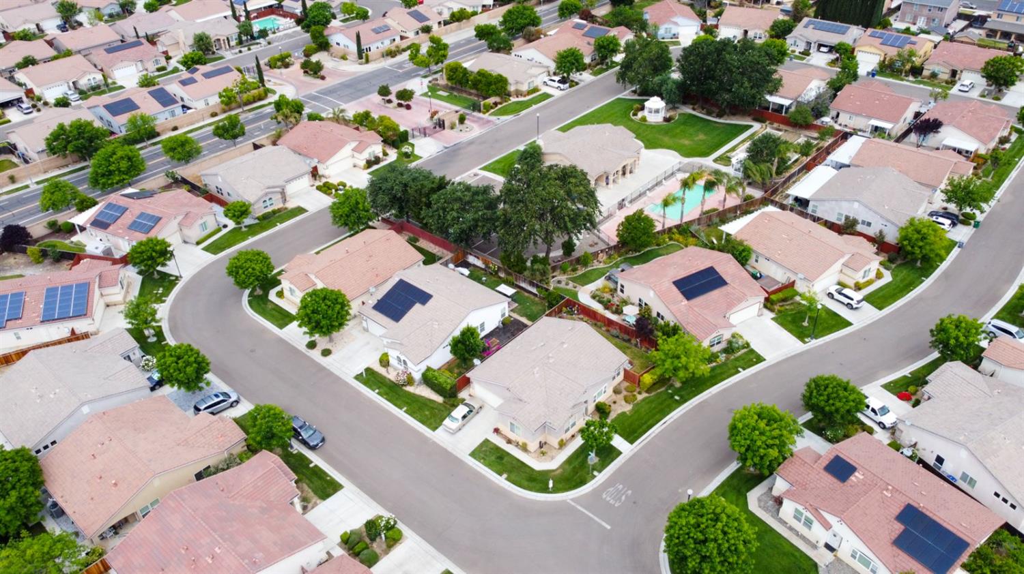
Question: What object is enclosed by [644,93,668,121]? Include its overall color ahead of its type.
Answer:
white gazebo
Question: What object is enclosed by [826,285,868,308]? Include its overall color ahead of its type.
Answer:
white car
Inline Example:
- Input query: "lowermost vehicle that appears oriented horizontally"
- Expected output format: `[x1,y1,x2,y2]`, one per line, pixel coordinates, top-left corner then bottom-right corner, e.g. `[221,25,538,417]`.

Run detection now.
[190,393,240,416]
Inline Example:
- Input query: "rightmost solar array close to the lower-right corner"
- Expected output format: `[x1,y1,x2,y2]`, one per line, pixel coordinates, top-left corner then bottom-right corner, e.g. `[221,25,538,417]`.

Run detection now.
[892,503,970,574]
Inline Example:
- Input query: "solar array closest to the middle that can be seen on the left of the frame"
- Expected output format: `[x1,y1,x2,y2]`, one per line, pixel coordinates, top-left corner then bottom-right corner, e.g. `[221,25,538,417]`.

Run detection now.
[371,278,432,320]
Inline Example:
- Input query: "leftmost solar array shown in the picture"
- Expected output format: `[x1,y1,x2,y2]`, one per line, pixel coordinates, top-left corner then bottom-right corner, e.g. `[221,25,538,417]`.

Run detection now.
[0,291,25,321]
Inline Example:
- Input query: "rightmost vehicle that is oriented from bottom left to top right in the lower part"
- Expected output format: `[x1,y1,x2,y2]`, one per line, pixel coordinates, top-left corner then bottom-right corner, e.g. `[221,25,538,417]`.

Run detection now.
[441,398,483,433]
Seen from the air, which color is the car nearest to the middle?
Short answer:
white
